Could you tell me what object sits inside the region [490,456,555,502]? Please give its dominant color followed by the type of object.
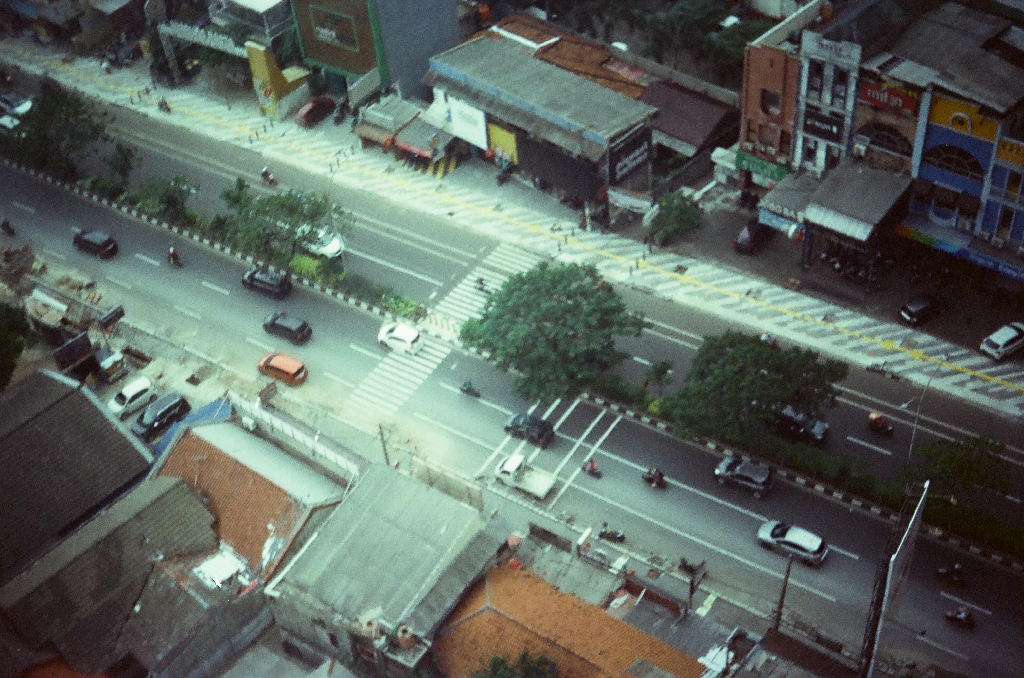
white truck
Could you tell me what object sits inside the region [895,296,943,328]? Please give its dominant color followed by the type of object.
black car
